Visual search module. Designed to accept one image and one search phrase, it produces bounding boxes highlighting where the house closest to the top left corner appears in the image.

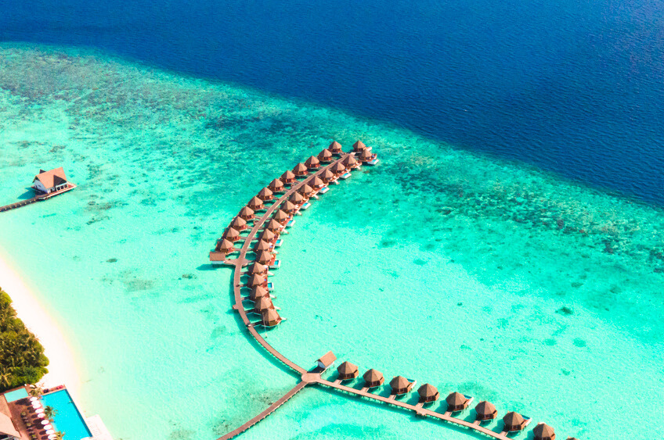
[33,167,83,201]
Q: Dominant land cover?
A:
water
